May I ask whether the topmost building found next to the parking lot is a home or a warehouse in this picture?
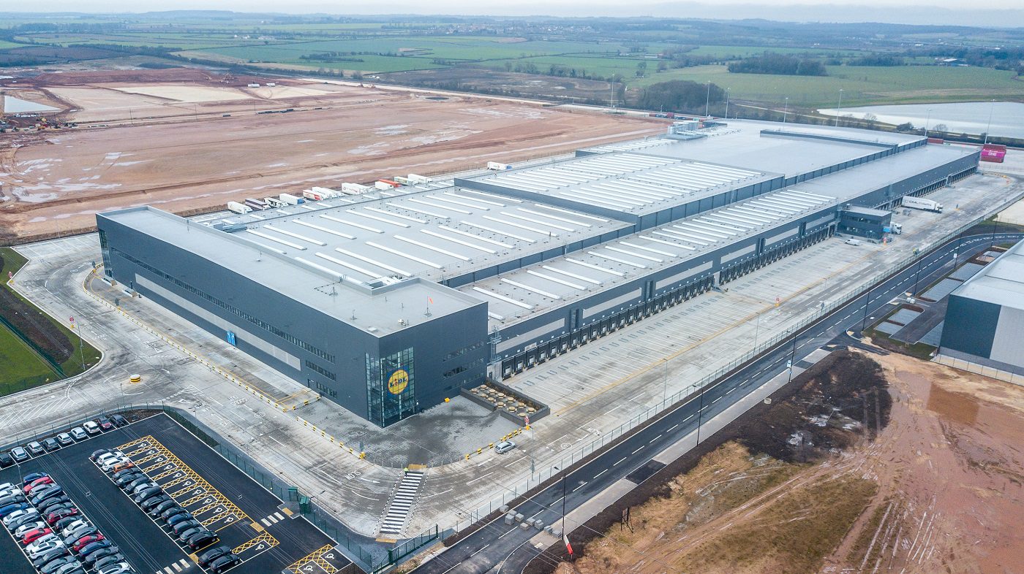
warehouse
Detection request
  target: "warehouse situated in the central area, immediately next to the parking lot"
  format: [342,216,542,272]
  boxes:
[97,119,985,429]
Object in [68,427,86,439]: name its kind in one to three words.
vehicle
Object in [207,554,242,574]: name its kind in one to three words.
car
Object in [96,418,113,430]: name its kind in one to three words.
vehicle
